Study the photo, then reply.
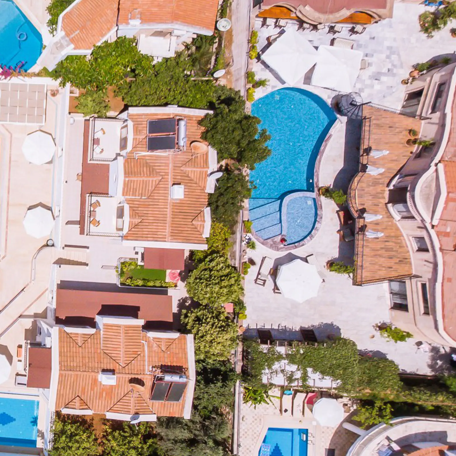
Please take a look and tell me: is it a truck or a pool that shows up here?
pool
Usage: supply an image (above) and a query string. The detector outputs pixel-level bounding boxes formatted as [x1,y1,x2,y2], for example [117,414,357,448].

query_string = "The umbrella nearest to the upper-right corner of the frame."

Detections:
[314,39,364,88]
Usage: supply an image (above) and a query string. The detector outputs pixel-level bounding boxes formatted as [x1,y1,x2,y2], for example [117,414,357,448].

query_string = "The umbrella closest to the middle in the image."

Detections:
[275,258,320,303]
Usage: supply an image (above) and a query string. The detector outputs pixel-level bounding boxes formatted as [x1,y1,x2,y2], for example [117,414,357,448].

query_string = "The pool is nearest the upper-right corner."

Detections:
[249,87,336,243]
